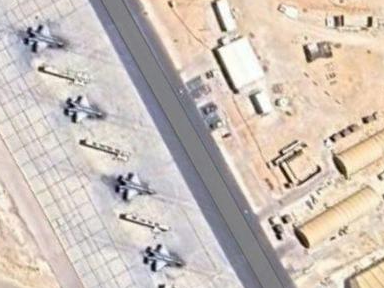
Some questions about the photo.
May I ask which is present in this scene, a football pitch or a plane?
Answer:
plane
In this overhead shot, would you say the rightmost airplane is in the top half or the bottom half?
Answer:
bottom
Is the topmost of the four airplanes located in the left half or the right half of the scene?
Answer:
left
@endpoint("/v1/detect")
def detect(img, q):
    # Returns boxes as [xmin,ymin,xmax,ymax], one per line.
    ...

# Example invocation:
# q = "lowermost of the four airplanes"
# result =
[145,244,185,270]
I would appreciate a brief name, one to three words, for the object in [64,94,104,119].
airplane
